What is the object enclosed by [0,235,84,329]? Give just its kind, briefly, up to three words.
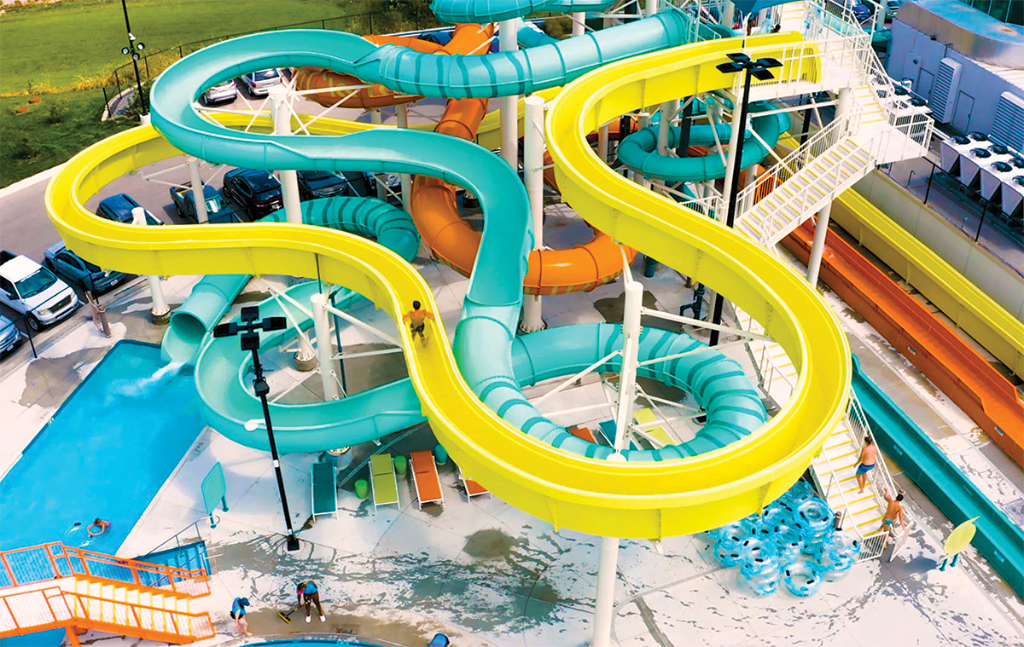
truck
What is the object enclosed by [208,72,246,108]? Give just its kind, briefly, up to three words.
car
